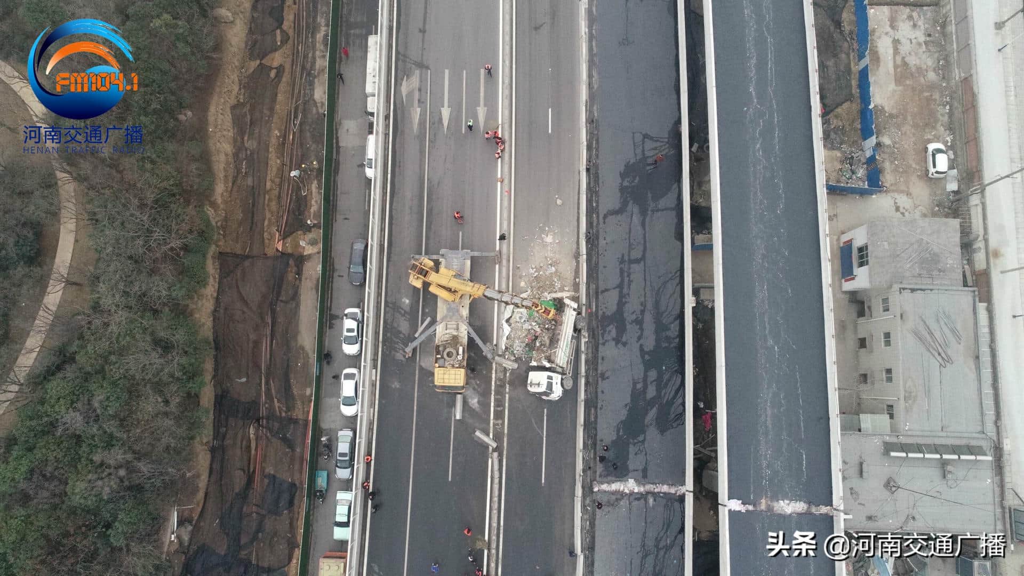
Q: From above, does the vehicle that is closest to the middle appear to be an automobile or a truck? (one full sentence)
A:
In the photo, the vehicle that is closest to the middle shows up as a truck.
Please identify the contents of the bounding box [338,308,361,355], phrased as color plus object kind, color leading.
white car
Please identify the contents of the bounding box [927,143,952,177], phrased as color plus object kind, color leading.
white car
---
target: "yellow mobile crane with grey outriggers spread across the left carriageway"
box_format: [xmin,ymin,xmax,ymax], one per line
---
[405,249,560,393]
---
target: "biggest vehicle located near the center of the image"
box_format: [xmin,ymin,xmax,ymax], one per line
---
[523,293,580,404]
